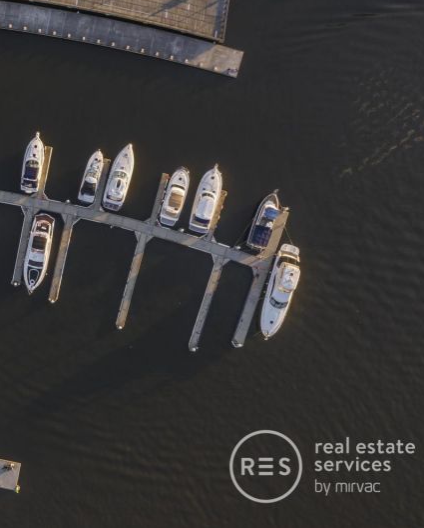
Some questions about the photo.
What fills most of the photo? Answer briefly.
water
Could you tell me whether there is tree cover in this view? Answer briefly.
No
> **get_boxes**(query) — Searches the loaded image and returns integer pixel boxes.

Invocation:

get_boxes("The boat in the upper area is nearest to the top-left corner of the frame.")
[20,130,45,193]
